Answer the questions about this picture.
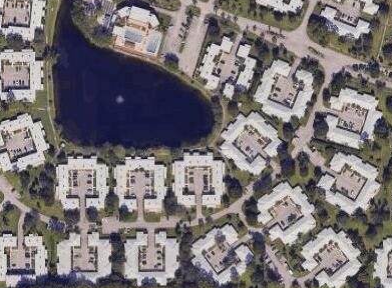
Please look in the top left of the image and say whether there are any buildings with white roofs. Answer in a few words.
Yes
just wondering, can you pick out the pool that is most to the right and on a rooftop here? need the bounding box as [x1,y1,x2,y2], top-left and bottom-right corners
[146,30,160,54]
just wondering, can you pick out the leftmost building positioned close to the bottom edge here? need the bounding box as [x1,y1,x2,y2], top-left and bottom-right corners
[0,232,48,287]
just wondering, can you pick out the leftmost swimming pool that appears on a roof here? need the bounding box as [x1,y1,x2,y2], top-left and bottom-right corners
[124,26,145,42]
